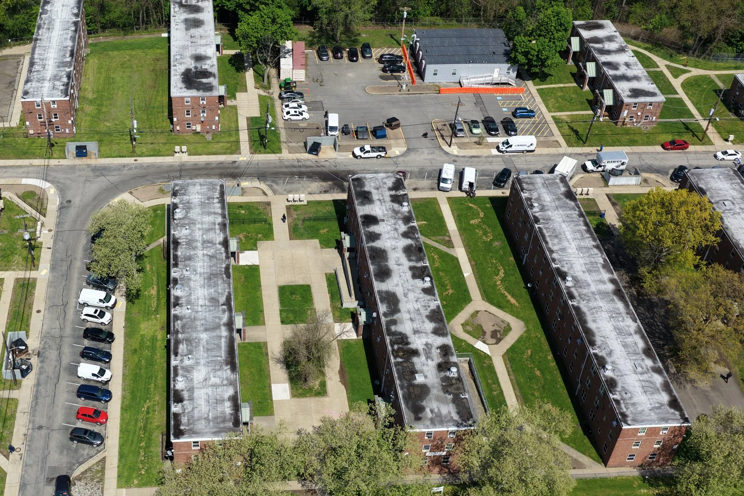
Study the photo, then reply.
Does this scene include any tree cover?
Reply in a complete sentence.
Yes, the picture does contain tree cover.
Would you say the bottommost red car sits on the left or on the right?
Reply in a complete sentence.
The bottommost red car appears in the left half of the scene.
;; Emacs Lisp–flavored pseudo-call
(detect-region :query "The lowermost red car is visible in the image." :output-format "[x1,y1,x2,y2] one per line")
[74,406,110,426]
